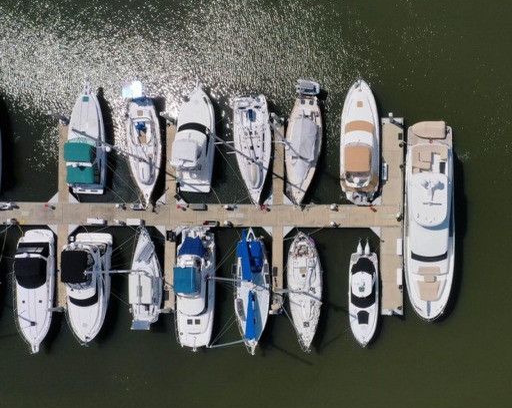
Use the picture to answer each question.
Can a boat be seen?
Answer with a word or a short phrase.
Yes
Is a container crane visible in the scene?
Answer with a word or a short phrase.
No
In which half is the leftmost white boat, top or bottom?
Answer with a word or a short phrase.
bottom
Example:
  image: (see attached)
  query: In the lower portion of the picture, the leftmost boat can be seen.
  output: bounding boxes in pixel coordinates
[2,222,63,353]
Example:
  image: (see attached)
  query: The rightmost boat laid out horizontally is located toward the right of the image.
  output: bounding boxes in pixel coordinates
[412,122,450,139]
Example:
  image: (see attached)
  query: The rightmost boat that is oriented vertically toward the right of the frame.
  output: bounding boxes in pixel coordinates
[401,126,455,320]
